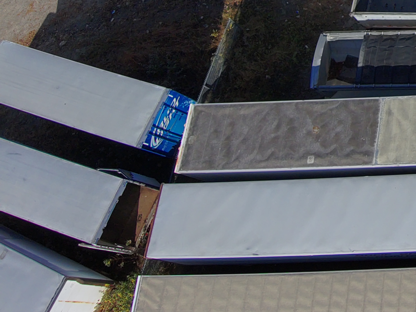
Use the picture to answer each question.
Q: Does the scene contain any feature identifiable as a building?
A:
No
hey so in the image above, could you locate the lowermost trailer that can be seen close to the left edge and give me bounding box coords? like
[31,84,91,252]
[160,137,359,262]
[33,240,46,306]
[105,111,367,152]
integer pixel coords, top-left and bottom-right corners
[0,227,122,312]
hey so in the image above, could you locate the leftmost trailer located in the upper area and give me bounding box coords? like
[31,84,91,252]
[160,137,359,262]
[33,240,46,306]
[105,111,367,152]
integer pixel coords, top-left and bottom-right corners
[0,39,190,167]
